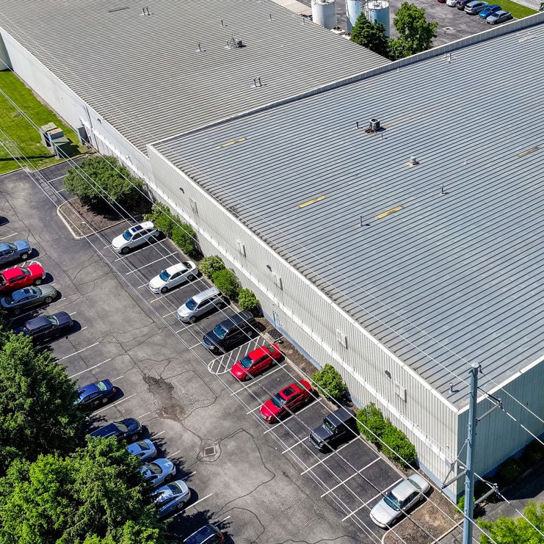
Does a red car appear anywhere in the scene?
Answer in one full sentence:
Yes, there's a red car here.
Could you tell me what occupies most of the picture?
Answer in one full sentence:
The scene is dominated by buildings.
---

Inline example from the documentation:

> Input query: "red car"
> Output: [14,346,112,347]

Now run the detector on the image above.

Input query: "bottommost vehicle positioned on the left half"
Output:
[185,512,246,544]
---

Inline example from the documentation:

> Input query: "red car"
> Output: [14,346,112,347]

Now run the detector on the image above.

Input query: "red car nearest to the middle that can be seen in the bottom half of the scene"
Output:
[228,347,285,384]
